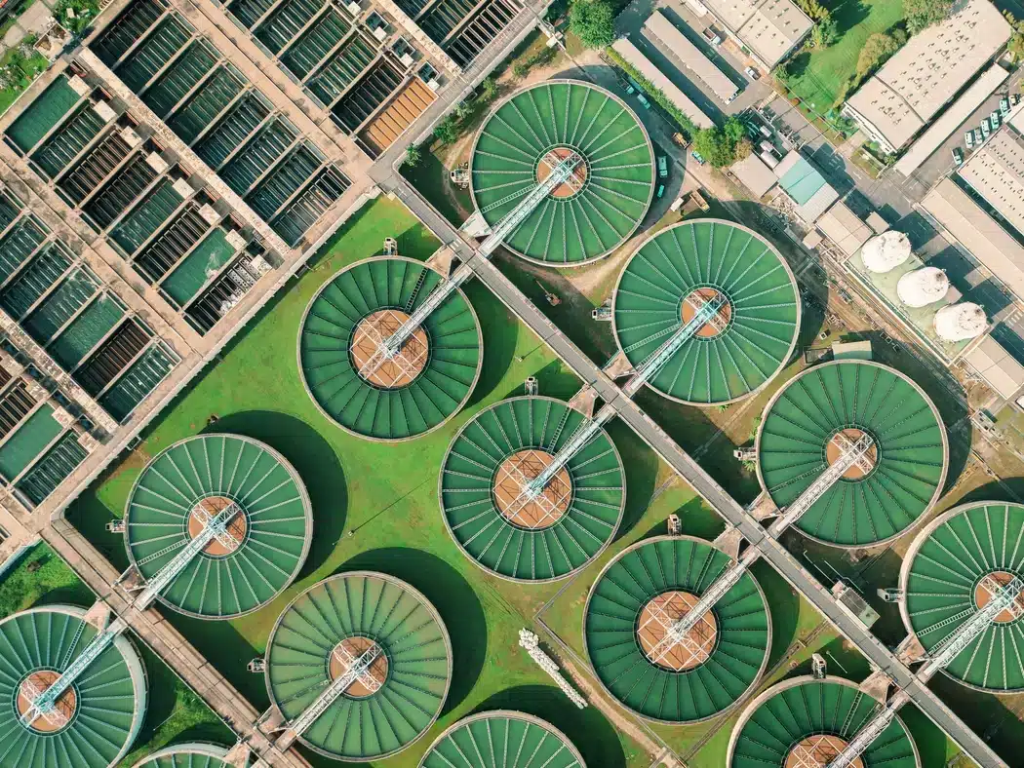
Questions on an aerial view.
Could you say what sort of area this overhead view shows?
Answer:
industrial area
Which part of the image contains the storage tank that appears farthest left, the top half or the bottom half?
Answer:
bottom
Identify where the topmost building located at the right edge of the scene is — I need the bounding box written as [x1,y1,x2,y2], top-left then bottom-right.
[847,0,1014,150]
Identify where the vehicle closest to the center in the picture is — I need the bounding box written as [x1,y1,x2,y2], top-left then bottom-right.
[536,280,561,306]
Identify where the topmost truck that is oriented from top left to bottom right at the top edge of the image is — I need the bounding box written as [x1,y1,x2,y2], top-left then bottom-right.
[700,24,723,47]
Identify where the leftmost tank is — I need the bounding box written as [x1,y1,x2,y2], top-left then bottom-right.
[0,597,152,768]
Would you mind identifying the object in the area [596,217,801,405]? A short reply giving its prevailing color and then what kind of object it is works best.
green storage tank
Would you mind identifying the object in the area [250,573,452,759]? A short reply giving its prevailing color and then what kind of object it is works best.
green storage tank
